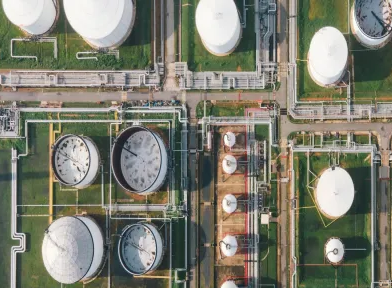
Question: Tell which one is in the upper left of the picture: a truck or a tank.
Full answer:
The feature located in the upper left of the picture is a tank.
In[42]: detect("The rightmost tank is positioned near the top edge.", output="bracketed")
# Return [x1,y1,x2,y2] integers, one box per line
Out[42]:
[349,0,392,50]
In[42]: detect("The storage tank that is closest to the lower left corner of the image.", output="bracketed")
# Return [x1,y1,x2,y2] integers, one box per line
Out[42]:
[41,213,105,284]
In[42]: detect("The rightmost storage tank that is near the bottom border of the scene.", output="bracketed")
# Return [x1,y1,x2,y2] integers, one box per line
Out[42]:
[117,221,164,276]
